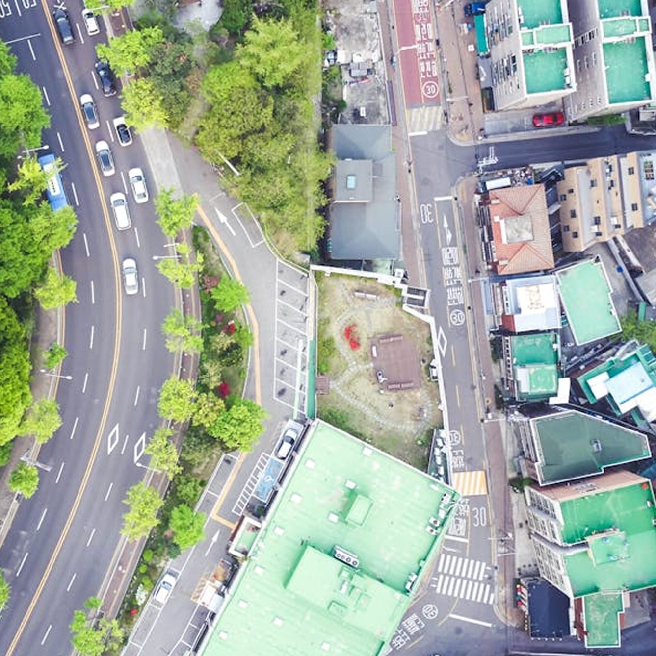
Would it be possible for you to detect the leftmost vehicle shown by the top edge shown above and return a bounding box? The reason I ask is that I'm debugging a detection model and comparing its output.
[53,8,73,47]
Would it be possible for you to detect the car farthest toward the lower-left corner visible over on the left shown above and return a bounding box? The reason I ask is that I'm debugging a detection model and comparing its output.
[151,568,179,606]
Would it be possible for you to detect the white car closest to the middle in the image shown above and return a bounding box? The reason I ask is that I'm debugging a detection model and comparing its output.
[274,423,301,461]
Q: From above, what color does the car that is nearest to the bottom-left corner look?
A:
white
